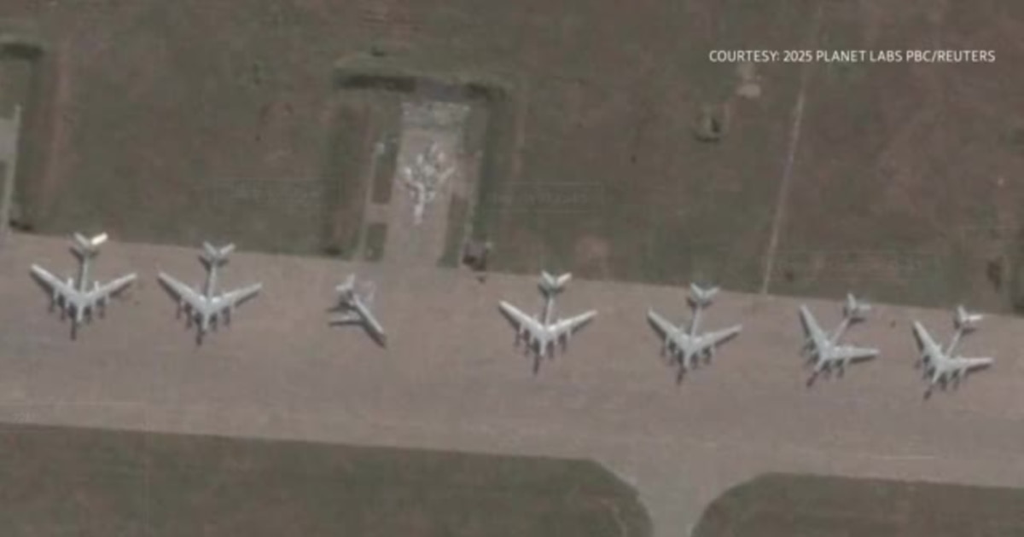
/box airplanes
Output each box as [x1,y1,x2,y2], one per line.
[501,272,596,367]
[649,283,741,377]
[31,231,136,332]
[405,153,451,225]
[912,305,991,395]
[159,241,262,343]
[799,292,879,381]
[332,275,388,340]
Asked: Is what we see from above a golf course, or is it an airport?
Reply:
airport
